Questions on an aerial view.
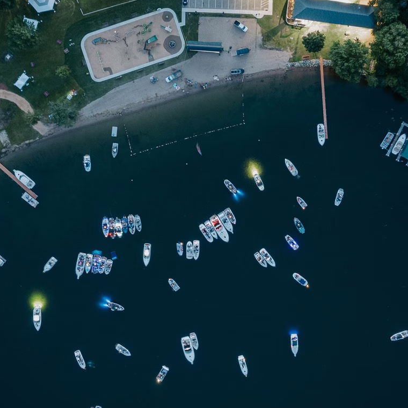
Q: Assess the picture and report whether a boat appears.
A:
Yes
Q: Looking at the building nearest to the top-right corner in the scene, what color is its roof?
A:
blue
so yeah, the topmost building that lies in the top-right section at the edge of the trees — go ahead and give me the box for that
[293,0,375,31]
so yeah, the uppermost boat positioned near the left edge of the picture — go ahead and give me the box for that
[14,170,37,190]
